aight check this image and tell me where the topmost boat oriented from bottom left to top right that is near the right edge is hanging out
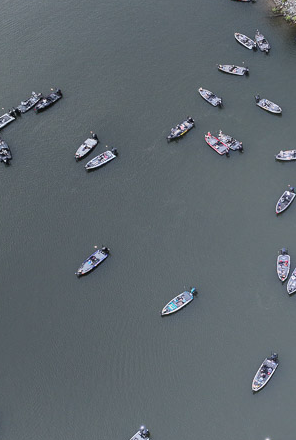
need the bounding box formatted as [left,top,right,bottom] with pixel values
[276,188,295,212]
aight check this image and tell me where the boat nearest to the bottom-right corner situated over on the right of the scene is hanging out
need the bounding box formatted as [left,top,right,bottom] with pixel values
[252,355,278,390]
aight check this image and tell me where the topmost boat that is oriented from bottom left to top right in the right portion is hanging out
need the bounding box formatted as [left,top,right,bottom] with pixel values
[168,116,195,137]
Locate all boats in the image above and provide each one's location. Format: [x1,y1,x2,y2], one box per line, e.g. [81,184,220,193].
[219,132,243,151]
[206,135,229,155]
[287,269,296,294]
[234,32,256,50]
[168,116,195,137]
[129,429,150,440]
[252,355,278,390]
[78,246,110,273]
[276,188,295,212]
[76,135,97,157]
[85,147,117,168]
[36,89,63,110]
[255,31,270,53]
[200,87,221,107]
[218,64,248,76]
[162,288,195,314]
[276,149,296,159]
[0,139,10,163]
[277,250,289,281]
[255,96,281,113]
[0,110,16,129]
[17,93,41,114]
